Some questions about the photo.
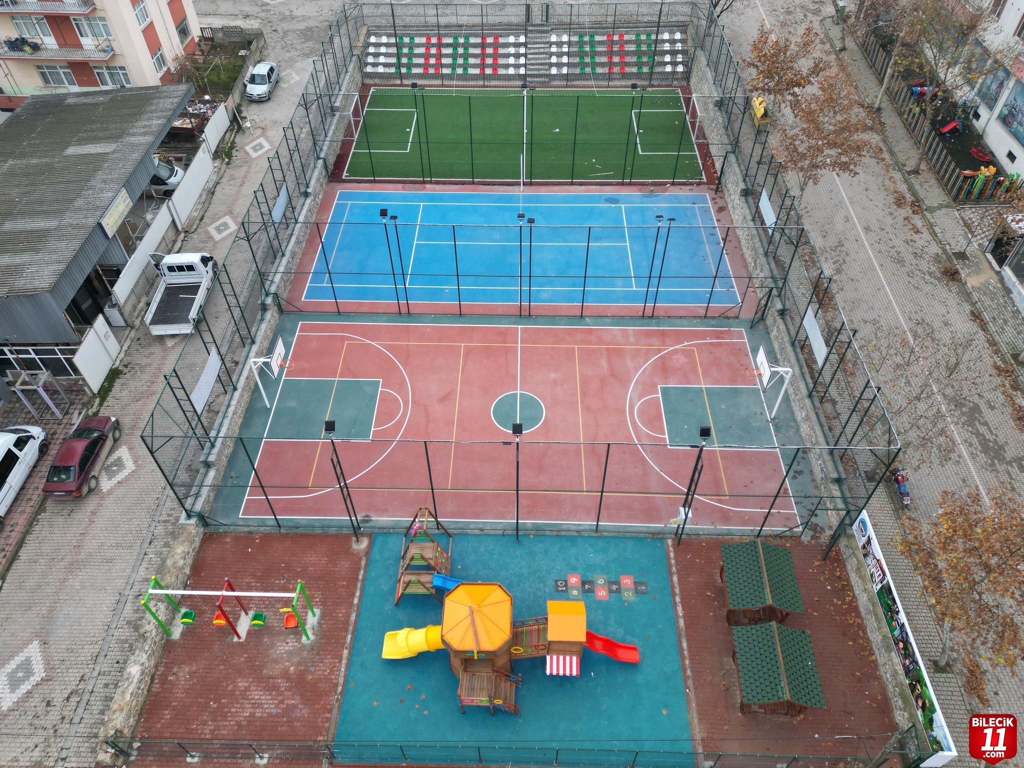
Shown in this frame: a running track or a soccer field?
soccer field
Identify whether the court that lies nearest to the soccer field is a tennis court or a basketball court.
tennis court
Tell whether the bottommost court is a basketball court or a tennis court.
basketball court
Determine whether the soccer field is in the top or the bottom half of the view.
top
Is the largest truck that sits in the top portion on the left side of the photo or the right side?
left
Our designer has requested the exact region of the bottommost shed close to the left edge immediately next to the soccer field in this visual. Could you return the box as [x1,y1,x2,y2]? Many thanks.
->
[0,83,211,377]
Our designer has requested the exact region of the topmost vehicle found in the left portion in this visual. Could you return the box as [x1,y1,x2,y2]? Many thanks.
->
[242,60,282,94]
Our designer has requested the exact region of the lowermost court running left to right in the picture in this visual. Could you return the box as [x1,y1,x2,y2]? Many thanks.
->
[211,314,830,538]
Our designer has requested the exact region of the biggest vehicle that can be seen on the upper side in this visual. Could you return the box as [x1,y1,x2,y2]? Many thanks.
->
[139,250,215,327]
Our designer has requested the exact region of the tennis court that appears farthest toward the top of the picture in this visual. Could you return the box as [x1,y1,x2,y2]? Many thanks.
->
[285,156,761,321]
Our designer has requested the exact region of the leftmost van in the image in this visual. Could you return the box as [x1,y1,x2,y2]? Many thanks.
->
[0,431,44,523]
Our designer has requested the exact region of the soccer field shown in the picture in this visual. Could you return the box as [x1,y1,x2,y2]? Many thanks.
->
[332,84,720,185]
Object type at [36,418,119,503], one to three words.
car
